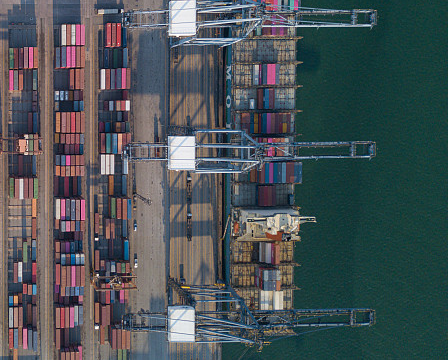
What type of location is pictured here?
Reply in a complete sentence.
This image shows a port.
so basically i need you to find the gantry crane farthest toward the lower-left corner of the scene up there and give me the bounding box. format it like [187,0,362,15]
[92,261,142,291]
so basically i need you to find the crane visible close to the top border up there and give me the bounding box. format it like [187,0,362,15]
[124,0,381,59]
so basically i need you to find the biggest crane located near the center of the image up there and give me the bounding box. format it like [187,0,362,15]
[124,113,380,174]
